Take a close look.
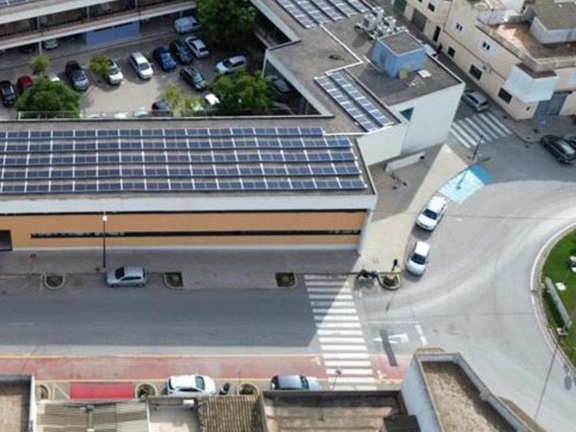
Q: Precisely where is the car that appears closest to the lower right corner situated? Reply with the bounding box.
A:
[403,239,435,279]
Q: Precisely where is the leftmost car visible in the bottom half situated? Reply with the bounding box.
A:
[102,261,153,288]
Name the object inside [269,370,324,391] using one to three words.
car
